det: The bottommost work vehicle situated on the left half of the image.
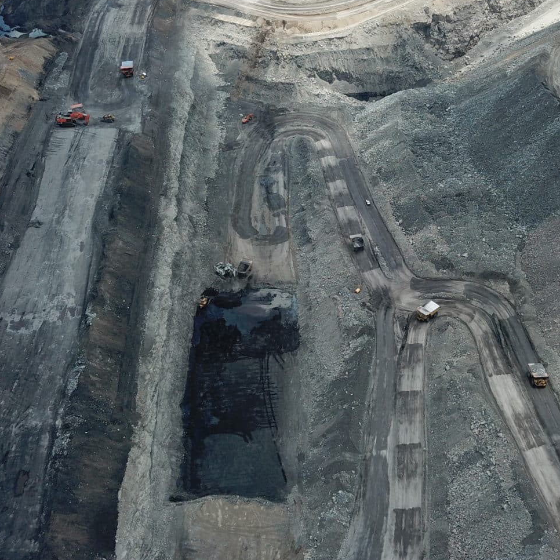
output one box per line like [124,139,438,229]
[198,292,213,308]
